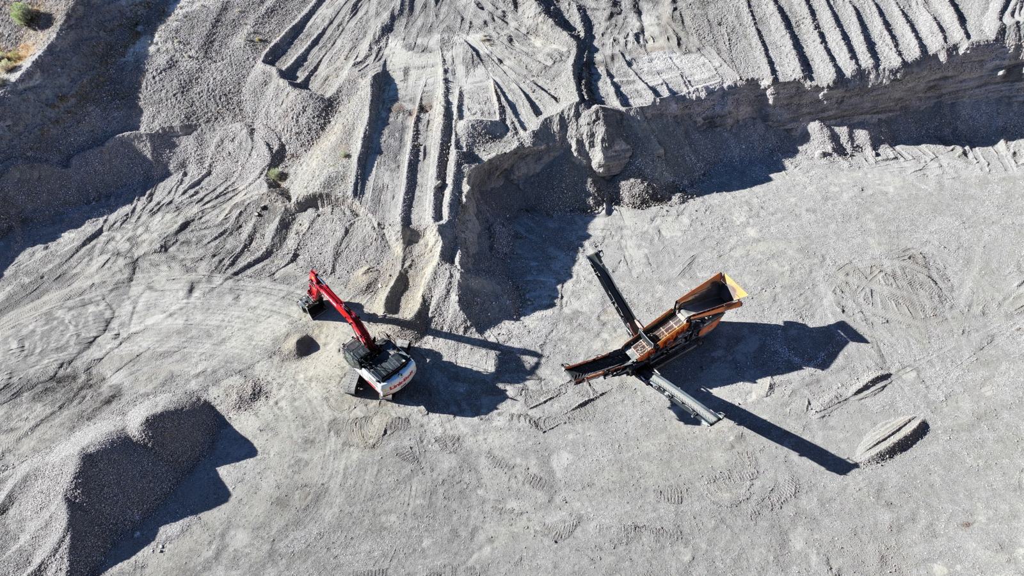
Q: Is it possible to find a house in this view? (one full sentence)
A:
No, there appears to be no house in this shot.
